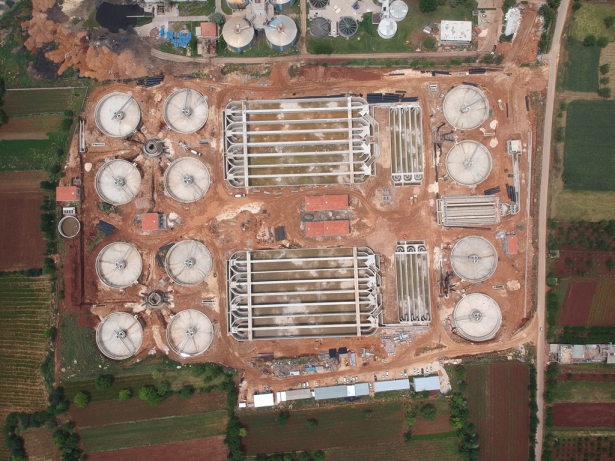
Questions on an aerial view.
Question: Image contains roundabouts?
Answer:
No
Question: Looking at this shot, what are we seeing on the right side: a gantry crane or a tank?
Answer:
tank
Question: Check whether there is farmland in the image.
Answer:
Yes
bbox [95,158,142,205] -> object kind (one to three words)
storage tank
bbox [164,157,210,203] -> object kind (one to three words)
storage tank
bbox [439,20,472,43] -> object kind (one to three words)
building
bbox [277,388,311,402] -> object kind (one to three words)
building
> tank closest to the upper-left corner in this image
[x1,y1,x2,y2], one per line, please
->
[94,92,142,139]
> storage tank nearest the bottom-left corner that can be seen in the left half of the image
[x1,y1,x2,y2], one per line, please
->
[95,312,144,359]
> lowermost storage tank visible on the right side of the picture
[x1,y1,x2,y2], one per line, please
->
[452,293,502,342]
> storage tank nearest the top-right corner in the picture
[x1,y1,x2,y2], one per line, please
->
[443,85,489,131]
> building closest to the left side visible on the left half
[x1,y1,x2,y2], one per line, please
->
[55,187,82,201]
